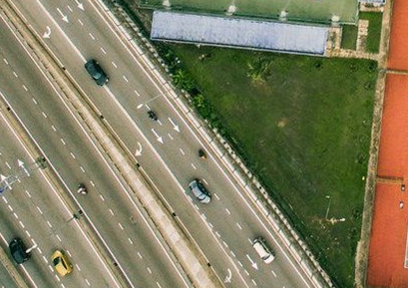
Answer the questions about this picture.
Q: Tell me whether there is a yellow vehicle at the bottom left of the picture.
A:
Yes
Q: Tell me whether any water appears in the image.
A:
No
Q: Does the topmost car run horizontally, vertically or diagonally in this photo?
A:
diagonally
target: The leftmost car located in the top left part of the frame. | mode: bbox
[83,59,108,87]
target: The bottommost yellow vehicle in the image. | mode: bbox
[52,250,71,278]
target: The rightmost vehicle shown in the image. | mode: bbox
[250,238,274,265]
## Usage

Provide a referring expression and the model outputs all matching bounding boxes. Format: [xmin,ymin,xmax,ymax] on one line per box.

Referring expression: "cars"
[83,59,108,87]
[186,177,211,205]
[250,238,274,265]
[52,250,71,278]
[7,236,27,267]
